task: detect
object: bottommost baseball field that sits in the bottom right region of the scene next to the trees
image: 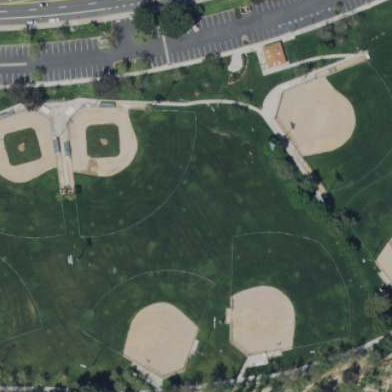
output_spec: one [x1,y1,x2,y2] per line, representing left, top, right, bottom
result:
[230,232,350,356]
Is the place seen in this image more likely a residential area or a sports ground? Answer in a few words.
sports ground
